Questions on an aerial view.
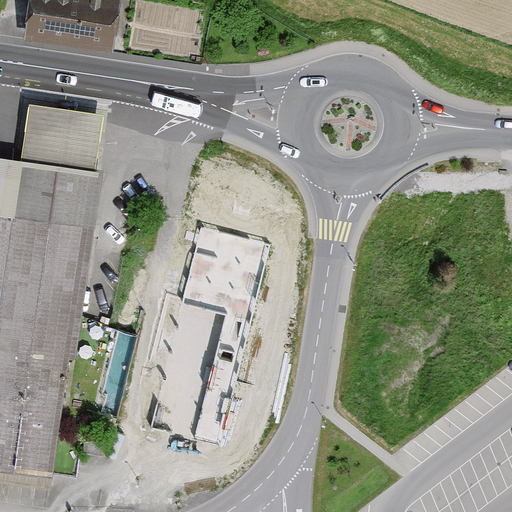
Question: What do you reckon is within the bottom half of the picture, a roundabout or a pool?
pool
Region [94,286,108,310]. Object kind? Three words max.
car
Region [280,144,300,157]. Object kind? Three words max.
vehicle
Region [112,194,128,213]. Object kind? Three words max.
car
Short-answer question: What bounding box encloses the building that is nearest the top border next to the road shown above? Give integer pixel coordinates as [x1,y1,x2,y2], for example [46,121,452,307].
[24,0,120,52]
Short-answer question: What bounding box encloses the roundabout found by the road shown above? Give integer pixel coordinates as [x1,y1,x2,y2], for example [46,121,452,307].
[256,54,424,198]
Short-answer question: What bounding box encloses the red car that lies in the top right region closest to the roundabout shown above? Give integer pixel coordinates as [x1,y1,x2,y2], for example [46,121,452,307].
[422,101,444,114]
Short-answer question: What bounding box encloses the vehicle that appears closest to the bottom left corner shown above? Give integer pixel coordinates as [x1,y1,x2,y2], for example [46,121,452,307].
[172,440,201,453]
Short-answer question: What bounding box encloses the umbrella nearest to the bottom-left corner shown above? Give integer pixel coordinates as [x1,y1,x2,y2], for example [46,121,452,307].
[79,344,93,358]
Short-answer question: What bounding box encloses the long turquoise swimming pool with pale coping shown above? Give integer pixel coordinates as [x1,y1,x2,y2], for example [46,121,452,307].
[101,326,137,418]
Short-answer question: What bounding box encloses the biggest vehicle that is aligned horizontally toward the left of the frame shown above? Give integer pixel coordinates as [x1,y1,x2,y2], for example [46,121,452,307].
[152,92,205,118]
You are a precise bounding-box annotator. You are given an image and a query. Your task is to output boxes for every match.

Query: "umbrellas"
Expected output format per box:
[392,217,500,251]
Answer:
[90,325,104,339]
[79,344,93,358]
